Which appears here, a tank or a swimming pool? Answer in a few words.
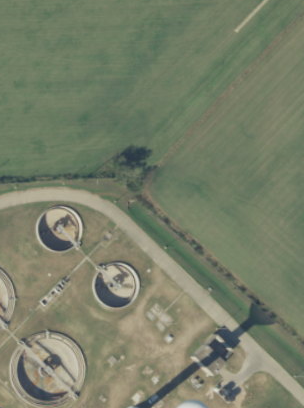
tank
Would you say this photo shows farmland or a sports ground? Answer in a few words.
farmland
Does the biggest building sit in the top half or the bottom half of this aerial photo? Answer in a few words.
bottom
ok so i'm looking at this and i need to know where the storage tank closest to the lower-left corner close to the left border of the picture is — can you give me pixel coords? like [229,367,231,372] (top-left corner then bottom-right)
[10,332,86,408]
